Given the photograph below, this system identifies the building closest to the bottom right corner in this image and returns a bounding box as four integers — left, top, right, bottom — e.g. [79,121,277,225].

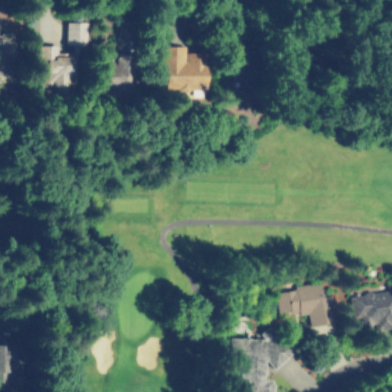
[354,293,392,330]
